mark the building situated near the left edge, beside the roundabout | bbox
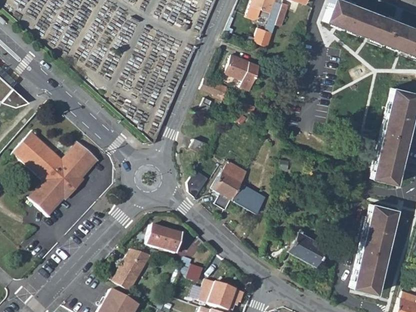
[12,132,99,216]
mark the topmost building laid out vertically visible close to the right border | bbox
[369,90,416,188]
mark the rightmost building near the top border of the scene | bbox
[322,0,416,62]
